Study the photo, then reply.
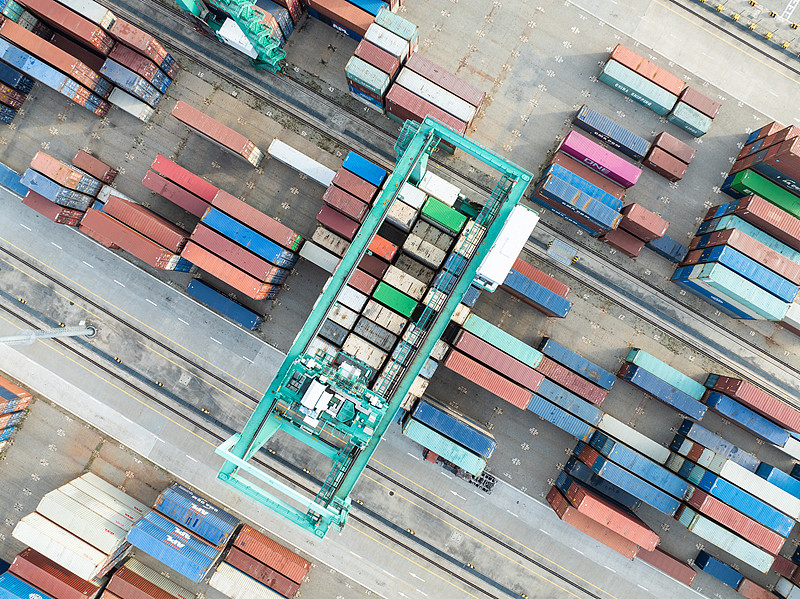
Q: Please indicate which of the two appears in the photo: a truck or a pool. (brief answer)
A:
truck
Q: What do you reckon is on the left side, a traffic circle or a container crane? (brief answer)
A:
container crane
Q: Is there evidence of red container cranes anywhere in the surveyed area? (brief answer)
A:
No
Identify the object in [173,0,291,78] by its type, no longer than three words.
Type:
container crane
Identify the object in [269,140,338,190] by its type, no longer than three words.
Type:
shipping container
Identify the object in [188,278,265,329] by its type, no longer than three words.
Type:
shipping container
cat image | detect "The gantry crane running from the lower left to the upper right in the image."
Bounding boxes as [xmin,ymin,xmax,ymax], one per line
[211,111,550,546]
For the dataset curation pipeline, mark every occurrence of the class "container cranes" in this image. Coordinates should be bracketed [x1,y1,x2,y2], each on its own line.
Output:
[173,0,291,78]
[211,111,550,546]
